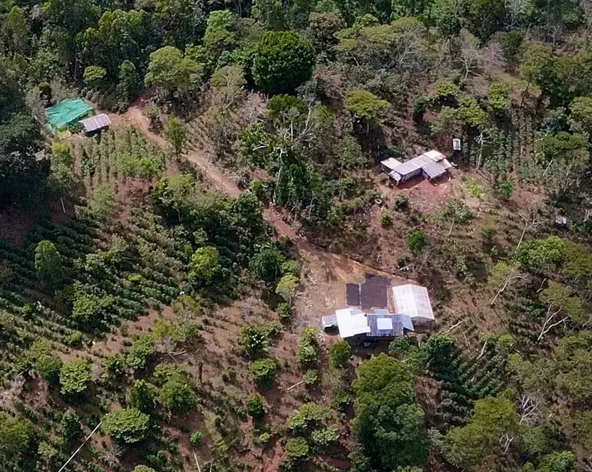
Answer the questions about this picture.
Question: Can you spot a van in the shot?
No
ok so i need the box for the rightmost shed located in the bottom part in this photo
[390,285,434,332]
